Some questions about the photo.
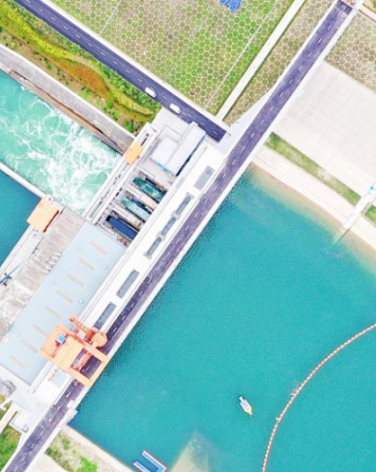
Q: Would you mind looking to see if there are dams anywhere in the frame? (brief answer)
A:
Yes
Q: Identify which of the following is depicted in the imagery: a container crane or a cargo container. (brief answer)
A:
container crane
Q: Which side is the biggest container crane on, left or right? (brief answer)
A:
left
